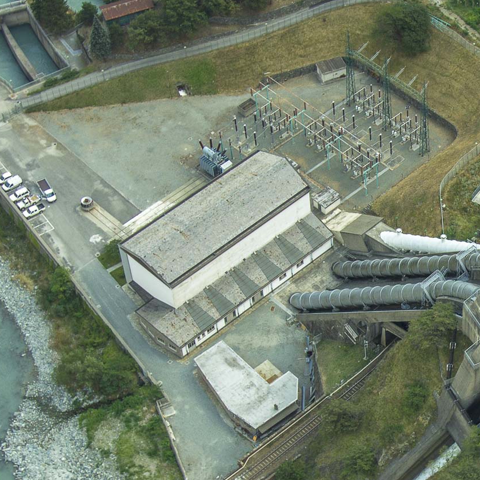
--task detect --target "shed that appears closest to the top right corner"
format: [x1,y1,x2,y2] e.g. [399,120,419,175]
[316,57,345,81]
